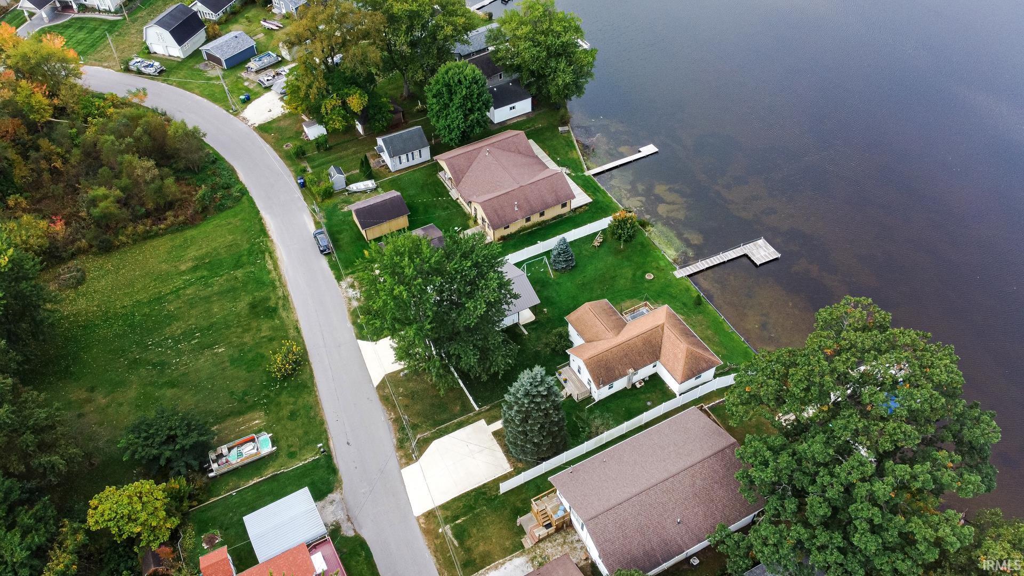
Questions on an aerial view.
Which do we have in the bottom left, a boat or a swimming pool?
boat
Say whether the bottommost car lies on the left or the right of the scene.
left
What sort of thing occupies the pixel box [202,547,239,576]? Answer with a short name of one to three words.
shed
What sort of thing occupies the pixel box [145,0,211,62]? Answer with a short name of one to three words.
barn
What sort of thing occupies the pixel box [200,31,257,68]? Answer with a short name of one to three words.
building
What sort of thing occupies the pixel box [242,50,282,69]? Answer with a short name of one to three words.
boat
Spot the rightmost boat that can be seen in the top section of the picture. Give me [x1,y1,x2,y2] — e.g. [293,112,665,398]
[342,176,378,192]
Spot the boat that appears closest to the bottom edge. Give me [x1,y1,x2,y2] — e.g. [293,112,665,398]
[202,436,276,479]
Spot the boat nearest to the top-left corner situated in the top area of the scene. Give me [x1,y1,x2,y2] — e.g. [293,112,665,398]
[127,52,163,70]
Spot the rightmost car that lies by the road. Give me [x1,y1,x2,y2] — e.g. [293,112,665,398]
[311,229,333,255]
